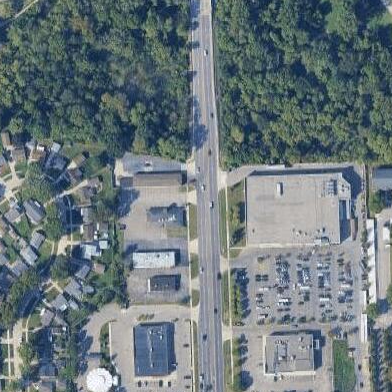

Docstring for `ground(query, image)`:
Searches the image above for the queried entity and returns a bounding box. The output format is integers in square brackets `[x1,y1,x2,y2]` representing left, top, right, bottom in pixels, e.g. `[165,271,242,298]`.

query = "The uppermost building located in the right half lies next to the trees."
[372,168,392,189]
